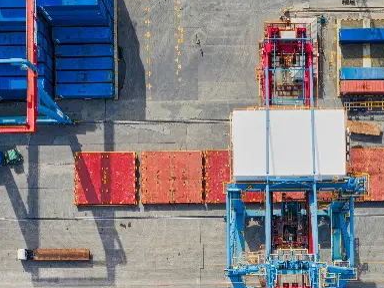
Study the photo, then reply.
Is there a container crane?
Yes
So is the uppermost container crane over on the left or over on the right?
left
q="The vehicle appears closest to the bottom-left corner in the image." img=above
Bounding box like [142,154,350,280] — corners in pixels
[16,247,91,261]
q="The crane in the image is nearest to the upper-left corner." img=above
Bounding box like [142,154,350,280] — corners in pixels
[0,0,70,137]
